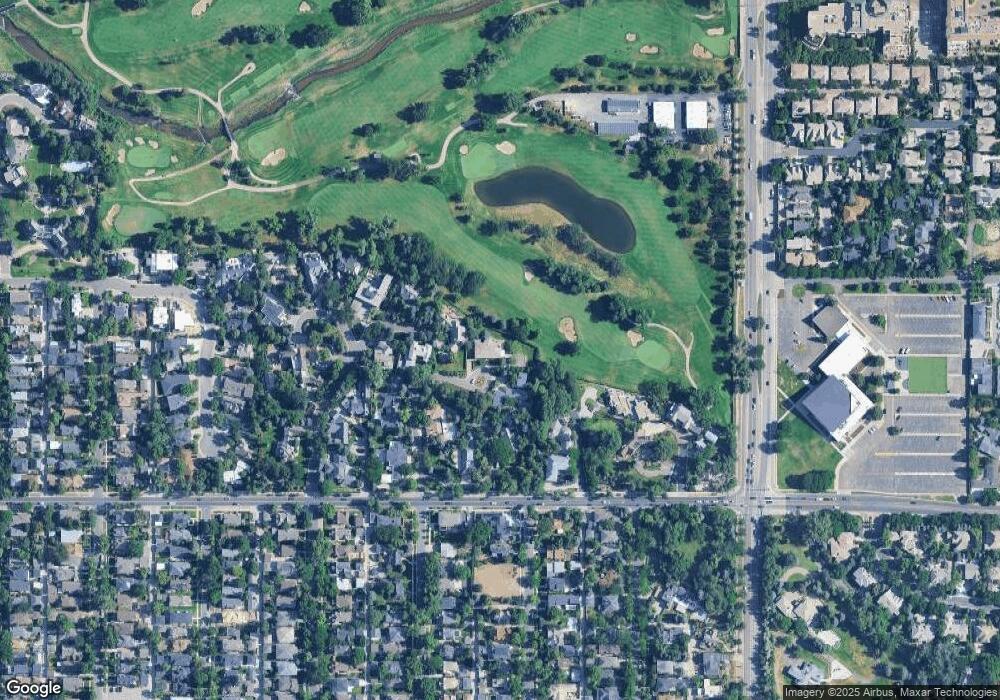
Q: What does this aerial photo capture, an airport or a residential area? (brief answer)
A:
residential area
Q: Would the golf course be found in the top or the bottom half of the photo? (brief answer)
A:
top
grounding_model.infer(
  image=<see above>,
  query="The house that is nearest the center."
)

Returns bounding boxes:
[474,340,512,357]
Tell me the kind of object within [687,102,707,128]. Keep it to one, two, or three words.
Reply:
shed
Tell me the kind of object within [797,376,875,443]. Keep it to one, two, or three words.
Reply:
building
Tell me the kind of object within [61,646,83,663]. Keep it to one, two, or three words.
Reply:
house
